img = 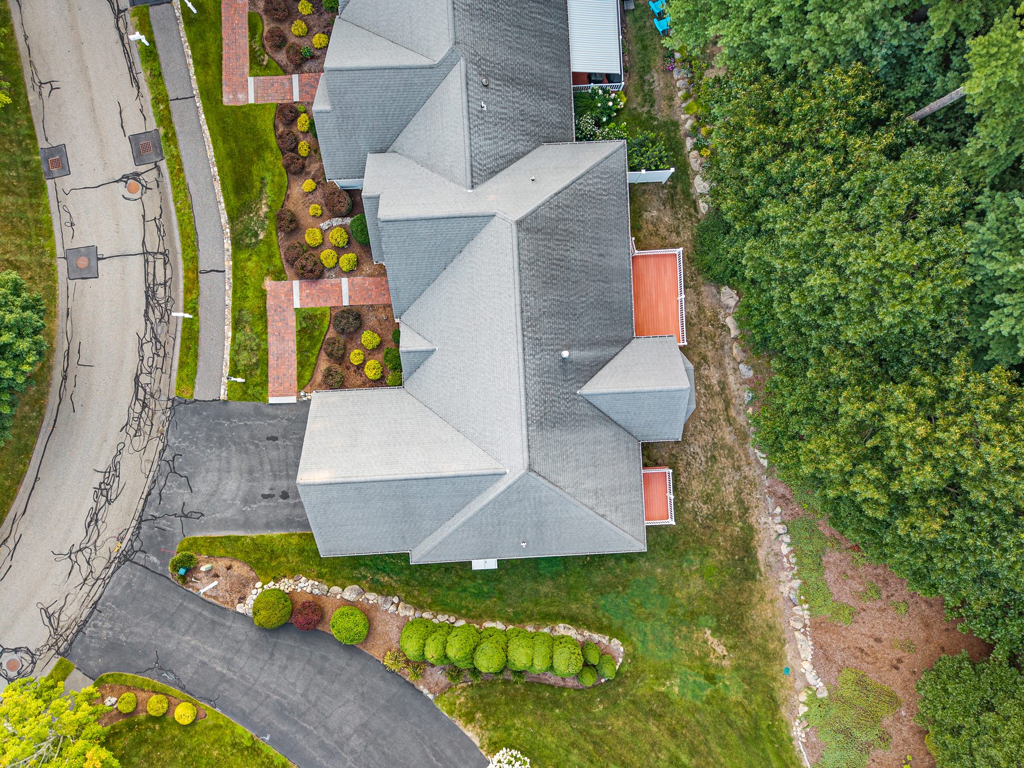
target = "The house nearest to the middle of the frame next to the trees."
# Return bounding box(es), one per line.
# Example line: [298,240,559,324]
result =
[297,139,696,567]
